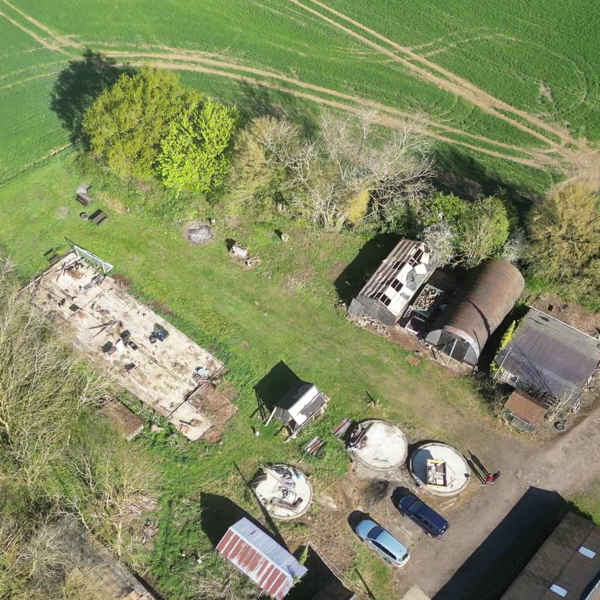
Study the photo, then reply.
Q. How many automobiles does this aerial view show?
2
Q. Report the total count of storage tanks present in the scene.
3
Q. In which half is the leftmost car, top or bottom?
bottom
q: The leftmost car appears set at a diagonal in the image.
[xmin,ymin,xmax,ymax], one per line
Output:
[355,519,414,573]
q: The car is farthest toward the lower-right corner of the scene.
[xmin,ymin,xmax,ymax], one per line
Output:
[398,494,454,545]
